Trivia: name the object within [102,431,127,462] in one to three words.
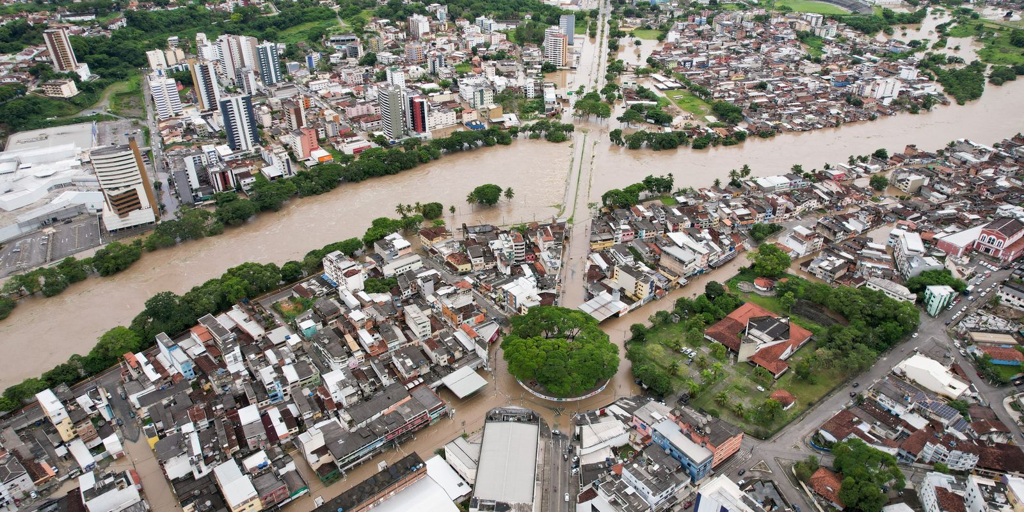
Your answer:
house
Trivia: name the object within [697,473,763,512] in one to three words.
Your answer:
building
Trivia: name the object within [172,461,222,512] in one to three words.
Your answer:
building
